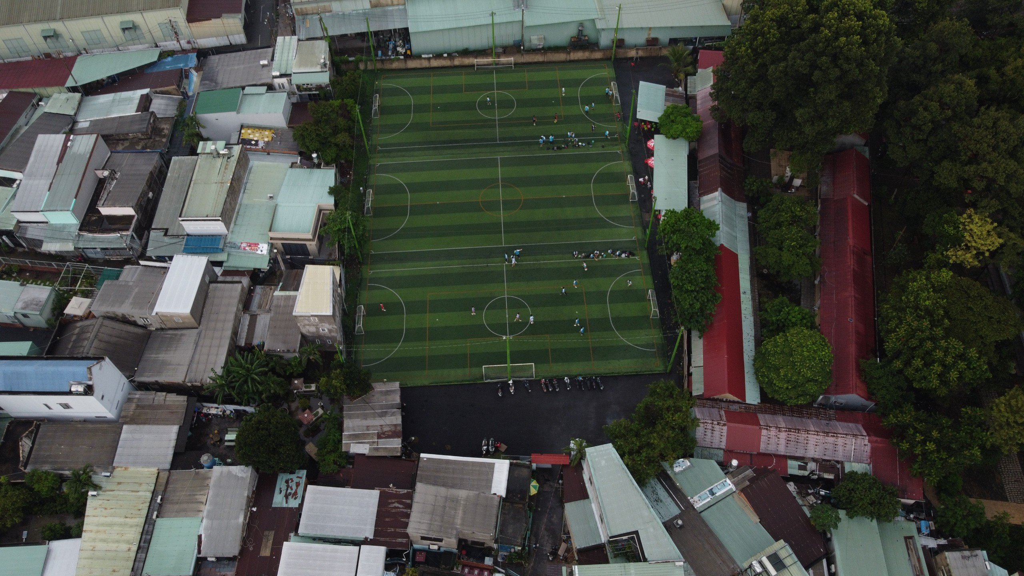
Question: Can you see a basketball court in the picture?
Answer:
No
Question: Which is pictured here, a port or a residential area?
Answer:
residential area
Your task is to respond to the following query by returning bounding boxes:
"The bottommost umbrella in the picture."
[527,479,541,498]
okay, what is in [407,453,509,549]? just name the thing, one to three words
house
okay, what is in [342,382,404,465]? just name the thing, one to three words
shed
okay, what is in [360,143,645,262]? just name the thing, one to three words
soccer field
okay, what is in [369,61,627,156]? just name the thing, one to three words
soccer field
